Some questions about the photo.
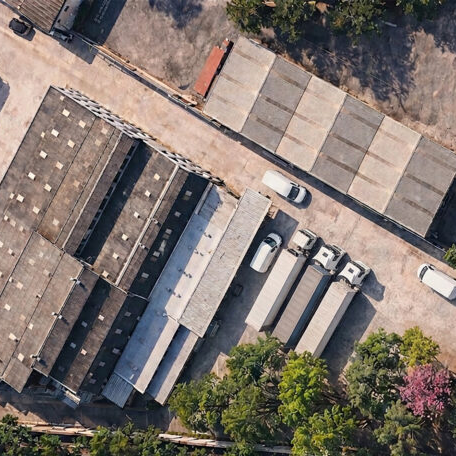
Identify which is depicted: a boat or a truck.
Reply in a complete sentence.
I can see a truck in this picture.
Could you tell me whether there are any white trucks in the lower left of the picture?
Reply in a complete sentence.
No, there is no white truck in the lower left of the picture.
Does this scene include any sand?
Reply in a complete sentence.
No, sand can't be seen anywhere here.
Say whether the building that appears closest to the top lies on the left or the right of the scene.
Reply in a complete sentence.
The building that appears closest to the top is on the left side of the image.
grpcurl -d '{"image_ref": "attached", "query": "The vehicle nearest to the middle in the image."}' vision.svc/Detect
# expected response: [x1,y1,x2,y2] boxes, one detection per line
[249,235,280,271]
